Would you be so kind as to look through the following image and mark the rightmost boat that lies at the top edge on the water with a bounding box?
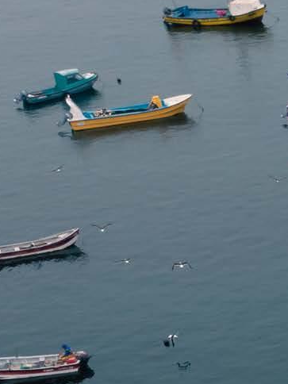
[160,0,266,25]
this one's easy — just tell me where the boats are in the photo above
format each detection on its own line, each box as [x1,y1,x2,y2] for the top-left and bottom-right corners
[60,93,192,130]
[0,346,89,383]
[0,226,79,262]
[16,68,98,106]
[160,0,266,25]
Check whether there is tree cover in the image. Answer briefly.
No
